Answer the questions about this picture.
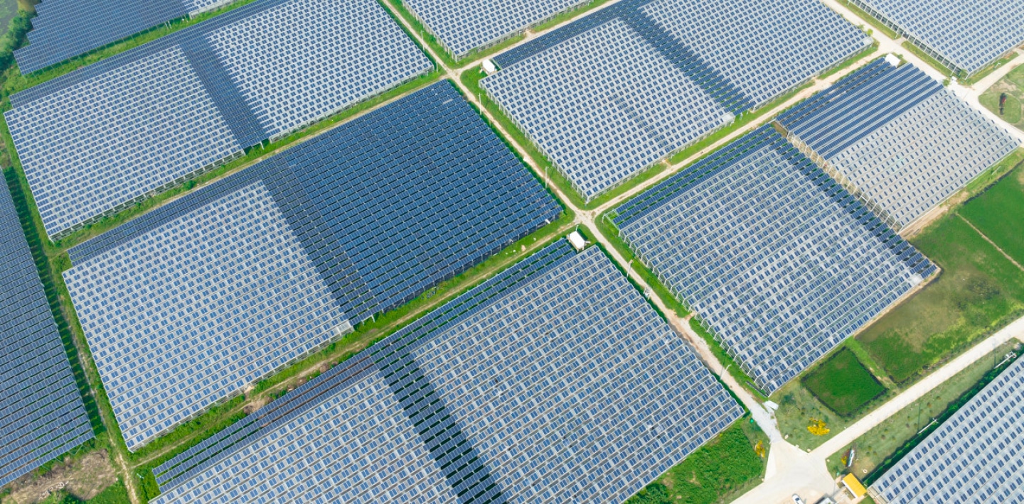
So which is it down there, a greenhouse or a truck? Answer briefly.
greenhouse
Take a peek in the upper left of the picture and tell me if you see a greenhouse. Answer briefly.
Yes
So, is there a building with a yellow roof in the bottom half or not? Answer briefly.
Yes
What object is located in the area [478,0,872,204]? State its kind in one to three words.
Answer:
greenhouse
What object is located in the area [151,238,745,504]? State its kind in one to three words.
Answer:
greenhouse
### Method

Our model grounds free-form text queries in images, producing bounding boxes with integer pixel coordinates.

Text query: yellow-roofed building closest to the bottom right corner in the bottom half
[836,473,866,503]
